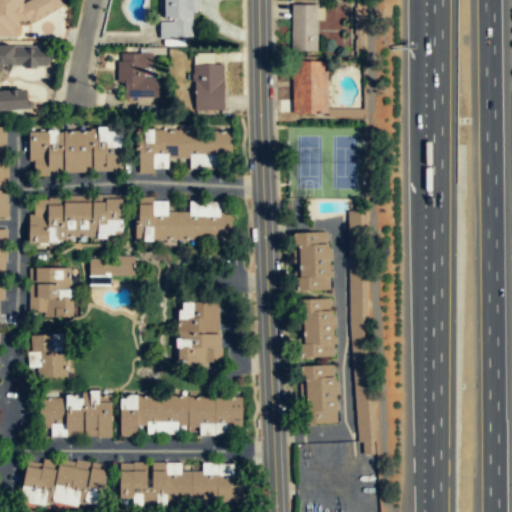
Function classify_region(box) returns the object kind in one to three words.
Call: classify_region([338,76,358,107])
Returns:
swimming pool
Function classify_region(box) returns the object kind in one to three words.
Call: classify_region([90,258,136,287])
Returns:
building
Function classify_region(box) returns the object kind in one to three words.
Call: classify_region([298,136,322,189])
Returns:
tennis court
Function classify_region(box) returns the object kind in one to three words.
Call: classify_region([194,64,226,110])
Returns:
house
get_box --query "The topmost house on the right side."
[293,4,326,52]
